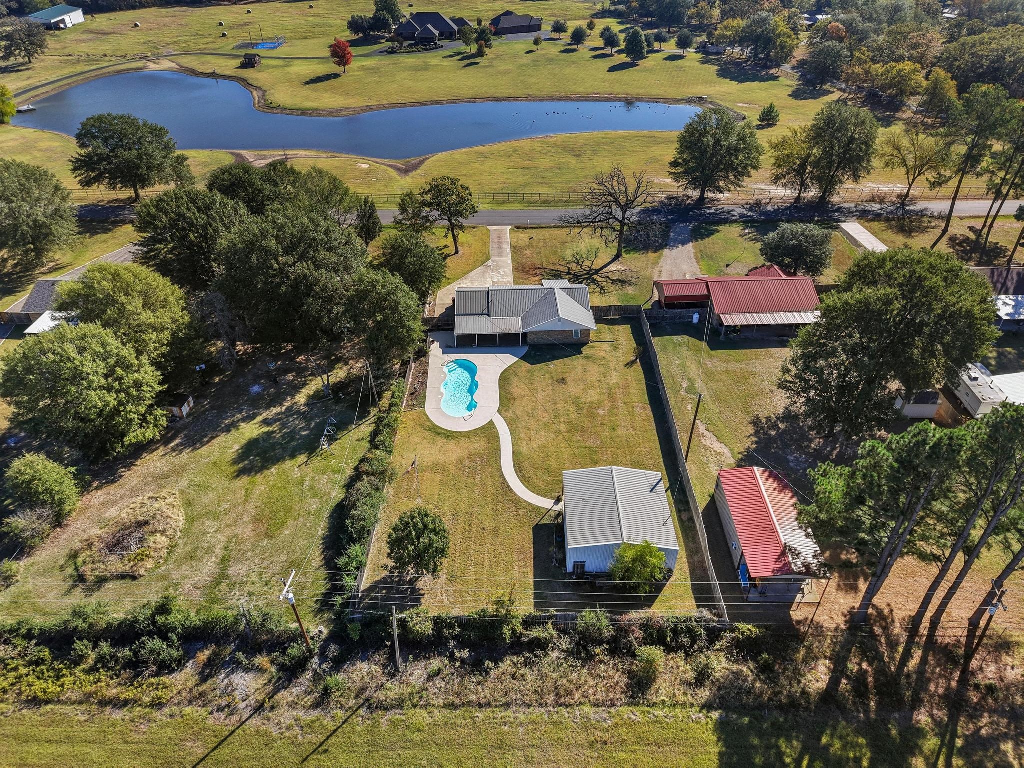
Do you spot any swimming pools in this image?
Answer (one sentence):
Yes, I can see a swimming pool in this picture.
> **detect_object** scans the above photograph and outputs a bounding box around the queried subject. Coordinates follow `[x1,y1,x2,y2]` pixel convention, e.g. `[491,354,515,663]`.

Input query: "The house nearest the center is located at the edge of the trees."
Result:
[451,279,598,347]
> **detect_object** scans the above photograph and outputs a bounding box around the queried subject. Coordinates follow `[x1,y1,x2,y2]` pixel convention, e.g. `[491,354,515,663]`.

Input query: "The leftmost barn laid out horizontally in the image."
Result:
[14,3,85,33]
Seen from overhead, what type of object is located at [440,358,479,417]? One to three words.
swimming pool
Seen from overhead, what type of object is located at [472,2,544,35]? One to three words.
building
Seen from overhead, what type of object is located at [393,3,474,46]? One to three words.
house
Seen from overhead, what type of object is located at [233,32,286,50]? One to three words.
sports court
